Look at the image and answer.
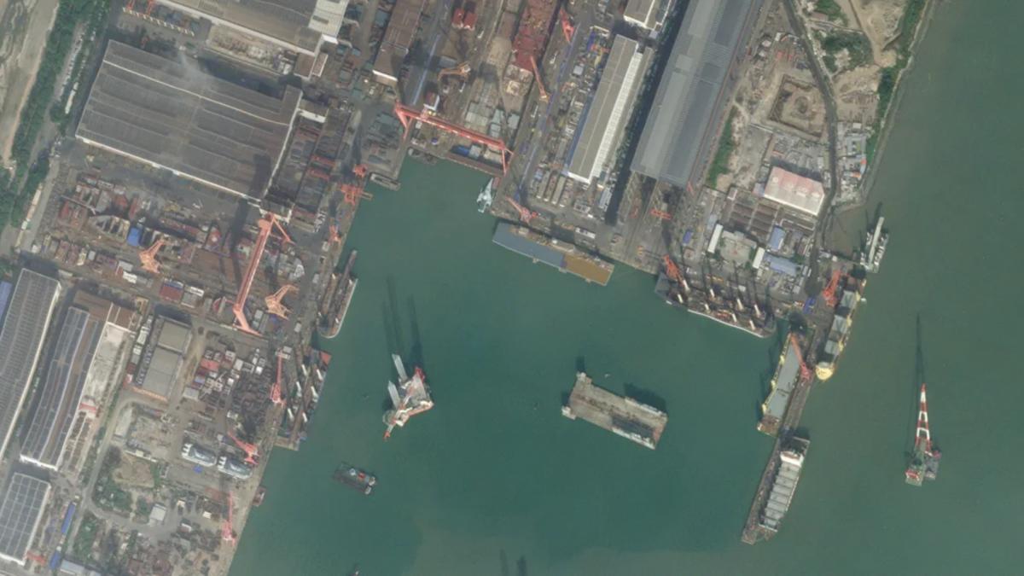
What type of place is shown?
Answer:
port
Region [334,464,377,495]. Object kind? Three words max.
ship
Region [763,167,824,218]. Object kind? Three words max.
building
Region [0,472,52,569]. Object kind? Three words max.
shed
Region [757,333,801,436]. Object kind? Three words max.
ship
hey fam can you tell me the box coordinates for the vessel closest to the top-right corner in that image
[859,216,889,273]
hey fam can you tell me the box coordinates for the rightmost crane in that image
[905,385,939,486]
